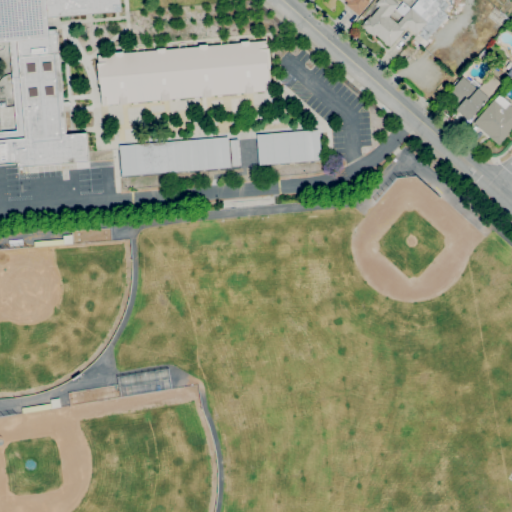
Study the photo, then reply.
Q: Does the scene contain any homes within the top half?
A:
Yes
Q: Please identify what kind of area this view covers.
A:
sports ground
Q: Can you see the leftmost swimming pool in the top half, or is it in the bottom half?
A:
top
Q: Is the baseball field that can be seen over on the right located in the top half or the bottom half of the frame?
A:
bottom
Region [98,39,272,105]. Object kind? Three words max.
building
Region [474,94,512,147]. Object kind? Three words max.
house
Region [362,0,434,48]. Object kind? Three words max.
house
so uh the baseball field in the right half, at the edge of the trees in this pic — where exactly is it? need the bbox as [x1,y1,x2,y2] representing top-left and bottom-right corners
[116,175,512,512]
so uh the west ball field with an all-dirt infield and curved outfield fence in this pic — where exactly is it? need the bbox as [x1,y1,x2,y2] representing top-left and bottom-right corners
[0,240,131,398]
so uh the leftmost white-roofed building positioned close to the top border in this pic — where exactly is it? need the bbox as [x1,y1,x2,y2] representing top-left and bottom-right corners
[0,0,121,168]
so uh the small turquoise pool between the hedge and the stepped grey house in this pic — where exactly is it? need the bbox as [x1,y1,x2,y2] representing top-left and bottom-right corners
[464,66,491,87]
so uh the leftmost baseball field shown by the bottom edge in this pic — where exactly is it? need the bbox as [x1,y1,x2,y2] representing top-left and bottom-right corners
[0,387,217,512]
